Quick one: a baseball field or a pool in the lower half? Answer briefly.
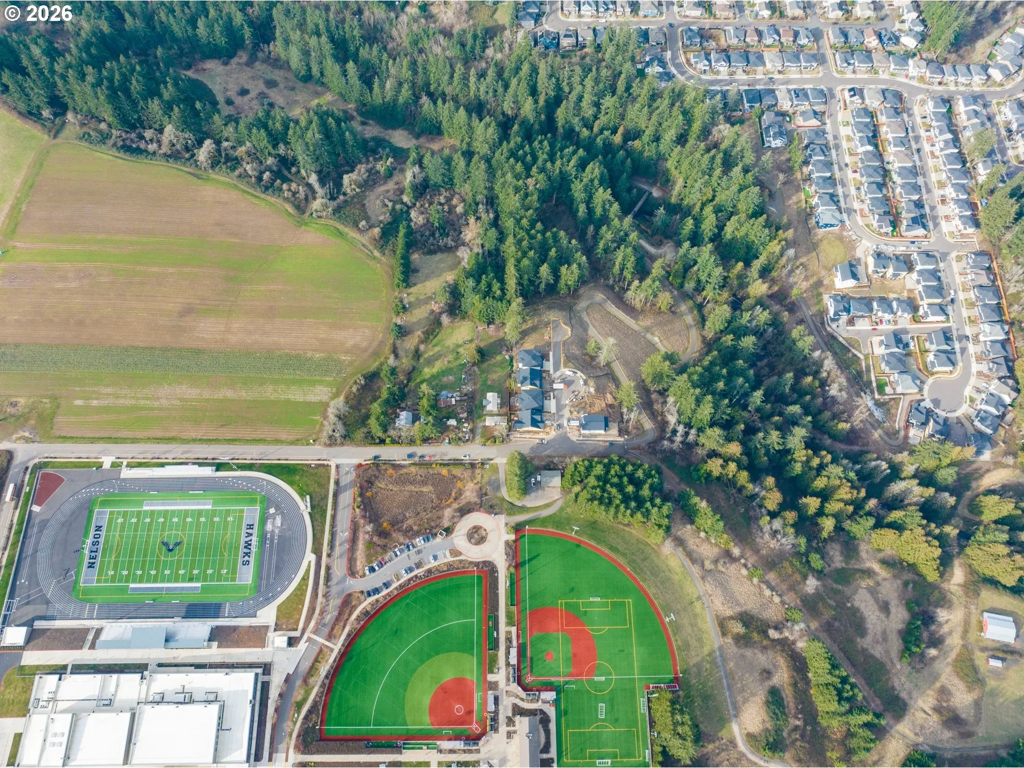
baseball field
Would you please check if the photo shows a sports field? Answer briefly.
Yes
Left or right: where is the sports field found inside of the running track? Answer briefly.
left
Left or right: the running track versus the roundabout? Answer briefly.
on its left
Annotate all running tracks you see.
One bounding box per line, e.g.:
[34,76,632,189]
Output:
[0,467,315,627]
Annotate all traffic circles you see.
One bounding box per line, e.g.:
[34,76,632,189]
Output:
[454,513,500,558]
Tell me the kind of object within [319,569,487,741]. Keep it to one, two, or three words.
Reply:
baseball field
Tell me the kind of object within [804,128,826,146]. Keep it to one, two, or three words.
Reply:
house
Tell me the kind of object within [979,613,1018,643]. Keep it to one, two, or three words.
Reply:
barn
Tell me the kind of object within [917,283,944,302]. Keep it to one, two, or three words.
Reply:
house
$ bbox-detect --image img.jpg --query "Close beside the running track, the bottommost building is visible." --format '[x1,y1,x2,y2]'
[15,671,267,768]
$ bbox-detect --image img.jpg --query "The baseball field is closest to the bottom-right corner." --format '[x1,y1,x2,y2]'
[515,527,681,768]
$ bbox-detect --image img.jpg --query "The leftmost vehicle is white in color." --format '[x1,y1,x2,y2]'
[4,483,17,500]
